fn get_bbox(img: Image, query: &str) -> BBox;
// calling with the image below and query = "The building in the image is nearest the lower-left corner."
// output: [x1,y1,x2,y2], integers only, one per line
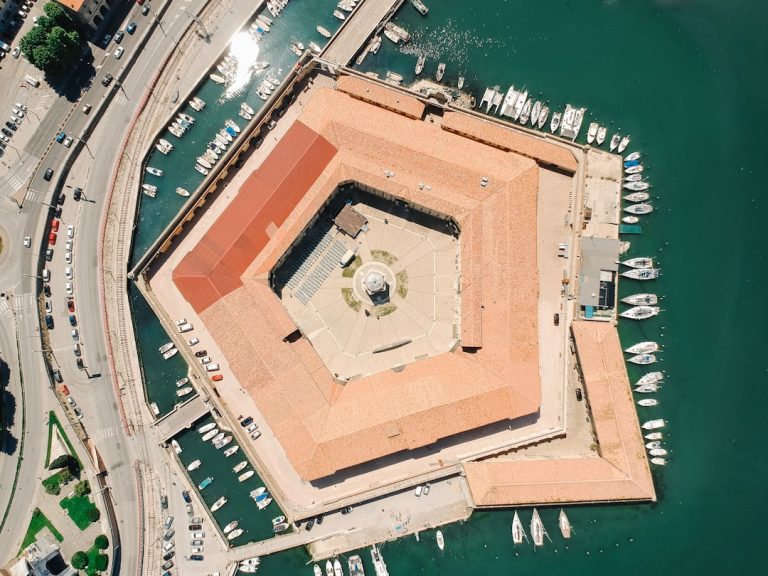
[12,537,91,576]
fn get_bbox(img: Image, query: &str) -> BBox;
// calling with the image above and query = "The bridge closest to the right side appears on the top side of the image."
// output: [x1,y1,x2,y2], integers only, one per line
[318,0,399,68]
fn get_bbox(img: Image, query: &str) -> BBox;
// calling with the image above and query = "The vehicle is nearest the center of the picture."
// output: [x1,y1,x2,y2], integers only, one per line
[340,245,358,266]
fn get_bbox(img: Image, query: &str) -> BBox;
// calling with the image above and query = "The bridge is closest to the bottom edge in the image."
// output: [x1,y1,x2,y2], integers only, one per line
[151,394,211,442]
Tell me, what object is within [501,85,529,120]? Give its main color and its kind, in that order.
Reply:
white boat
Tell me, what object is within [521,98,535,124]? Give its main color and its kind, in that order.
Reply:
white boat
